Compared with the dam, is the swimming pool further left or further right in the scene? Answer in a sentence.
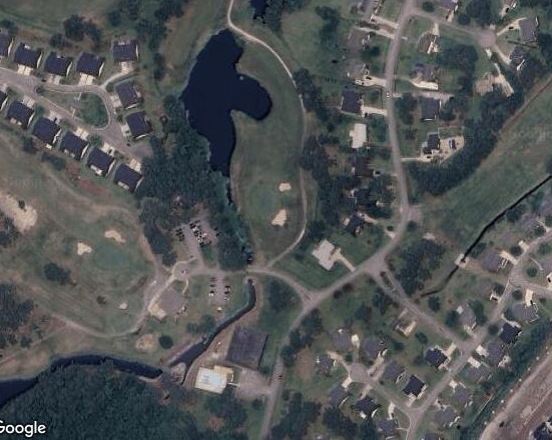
Looking at the picture, you'll find the swimming pool to the right of the dam.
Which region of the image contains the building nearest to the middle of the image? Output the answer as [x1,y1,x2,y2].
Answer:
[313,240,336,270]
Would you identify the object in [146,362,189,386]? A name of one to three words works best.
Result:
dam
